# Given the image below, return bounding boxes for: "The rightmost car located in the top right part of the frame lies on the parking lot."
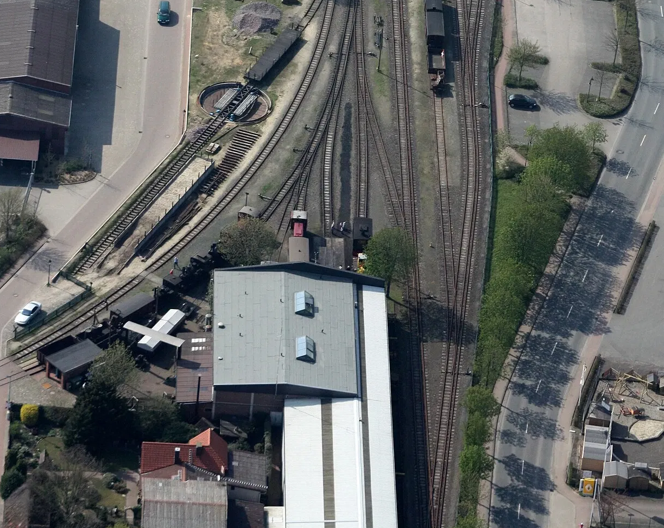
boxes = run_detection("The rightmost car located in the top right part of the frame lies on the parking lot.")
[510,92,538,109]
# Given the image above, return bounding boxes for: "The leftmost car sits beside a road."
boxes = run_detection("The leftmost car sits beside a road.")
[17,301,42,324]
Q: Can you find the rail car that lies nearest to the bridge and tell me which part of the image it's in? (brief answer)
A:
top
